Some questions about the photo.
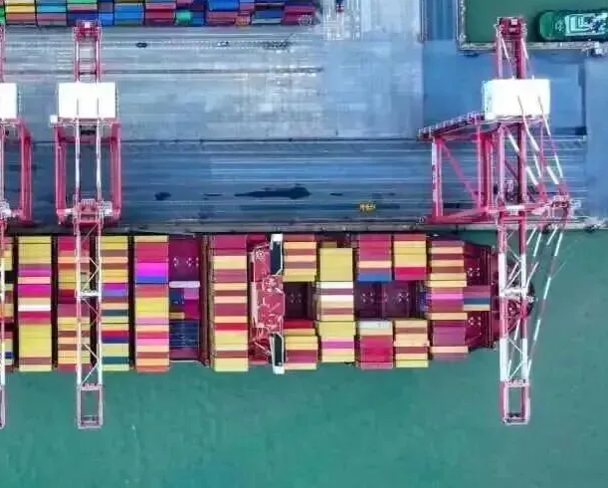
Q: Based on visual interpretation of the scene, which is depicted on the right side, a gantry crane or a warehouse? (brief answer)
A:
gantry crane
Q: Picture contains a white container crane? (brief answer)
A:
Yes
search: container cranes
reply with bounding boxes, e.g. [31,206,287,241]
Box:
[419,17,576,427]
[0,19,39,429]
[49,19,123,429]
